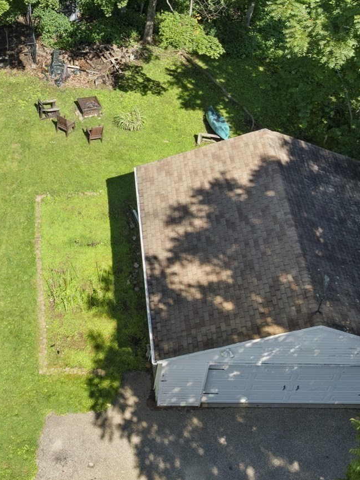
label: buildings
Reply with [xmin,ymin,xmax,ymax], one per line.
[132,128,360,408]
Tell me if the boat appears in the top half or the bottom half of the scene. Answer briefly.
top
